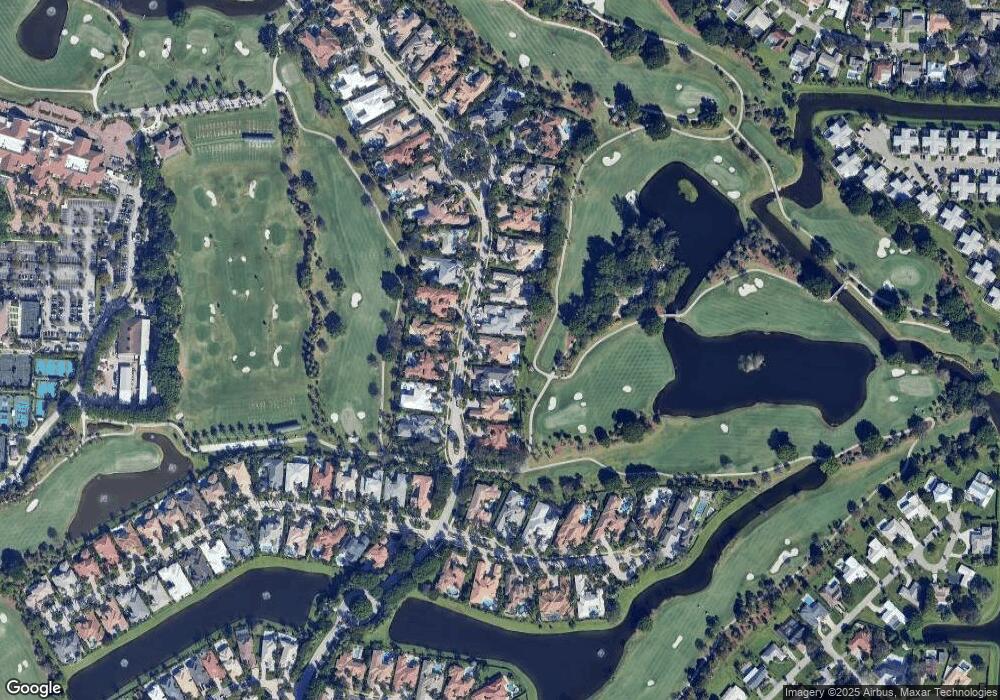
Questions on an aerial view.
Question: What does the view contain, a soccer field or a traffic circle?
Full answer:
Looking from above, you can make out a traffic circle.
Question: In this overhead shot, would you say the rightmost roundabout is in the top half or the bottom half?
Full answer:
It is in the top half that the rightmost roundabout appears.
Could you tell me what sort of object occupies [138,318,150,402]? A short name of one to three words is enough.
shed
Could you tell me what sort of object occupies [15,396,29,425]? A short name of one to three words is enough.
tennis court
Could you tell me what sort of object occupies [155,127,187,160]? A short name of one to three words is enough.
building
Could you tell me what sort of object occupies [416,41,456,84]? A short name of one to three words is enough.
house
